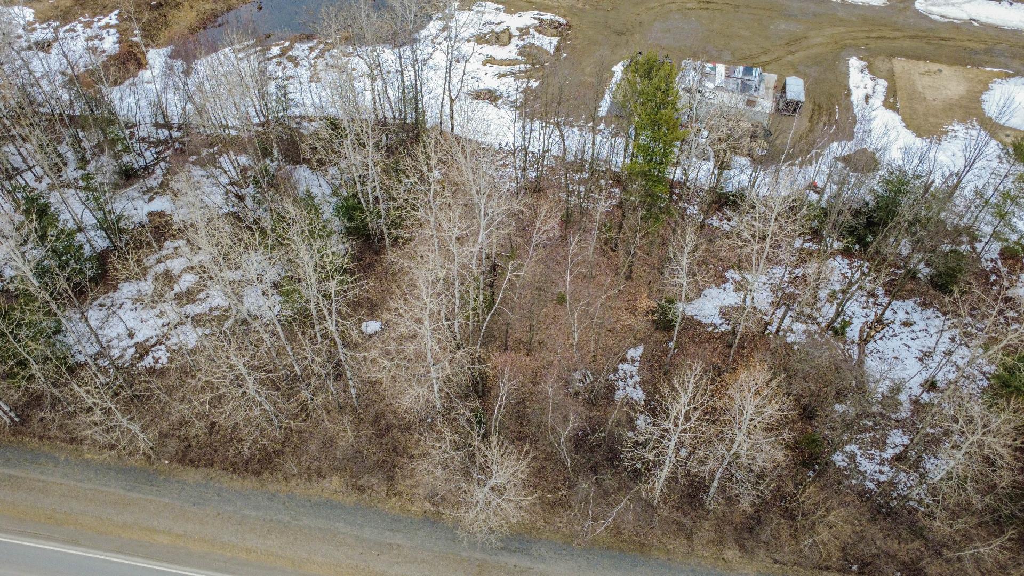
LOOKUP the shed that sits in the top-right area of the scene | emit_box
[780,77,808,117]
